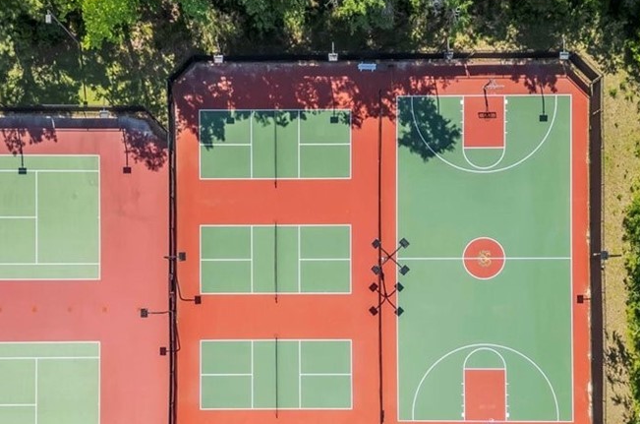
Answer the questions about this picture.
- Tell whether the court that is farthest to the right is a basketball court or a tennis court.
basketball court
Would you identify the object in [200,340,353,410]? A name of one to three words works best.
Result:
sports court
